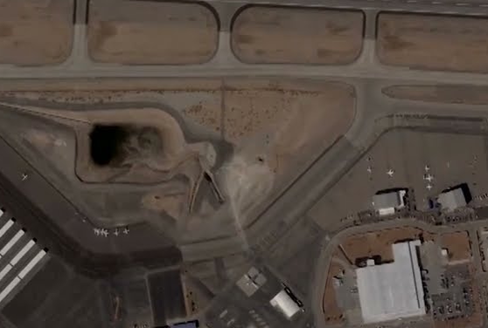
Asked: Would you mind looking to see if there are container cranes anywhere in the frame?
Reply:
No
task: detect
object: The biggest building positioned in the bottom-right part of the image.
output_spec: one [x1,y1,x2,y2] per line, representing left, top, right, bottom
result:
[357,241,427,325]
